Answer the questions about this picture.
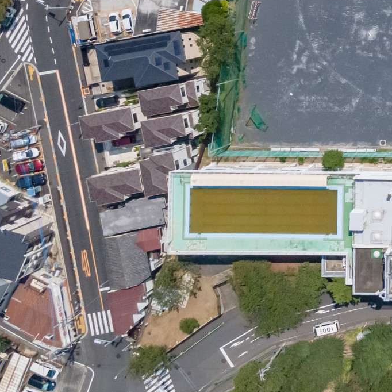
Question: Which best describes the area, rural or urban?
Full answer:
The land in this view is best described as urban.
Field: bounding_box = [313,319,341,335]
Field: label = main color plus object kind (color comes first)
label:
white car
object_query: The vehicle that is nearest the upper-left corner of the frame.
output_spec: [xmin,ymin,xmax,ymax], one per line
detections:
[0,8,19,32]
